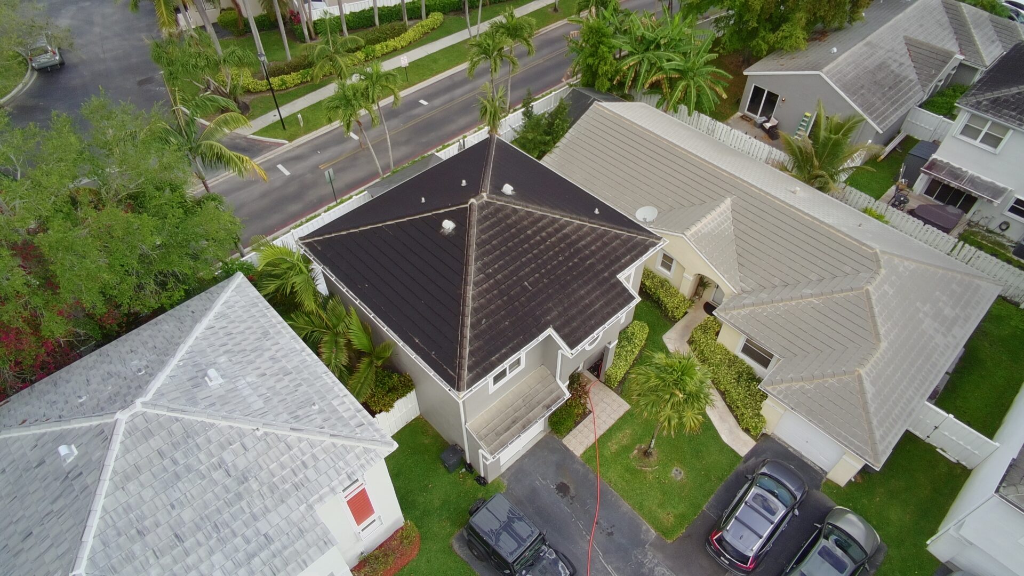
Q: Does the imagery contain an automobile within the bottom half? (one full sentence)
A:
Yes, an automobile appears within the bottom half.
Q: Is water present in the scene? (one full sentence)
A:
No, there is no water in the image.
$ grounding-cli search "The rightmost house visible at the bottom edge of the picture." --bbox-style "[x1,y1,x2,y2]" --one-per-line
[909,402,1024,576]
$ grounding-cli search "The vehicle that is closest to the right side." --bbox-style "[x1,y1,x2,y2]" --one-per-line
[788,510,876,576]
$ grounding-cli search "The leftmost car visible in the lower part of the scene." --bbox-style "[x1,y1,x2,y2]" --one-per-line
[466,492,569,576]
